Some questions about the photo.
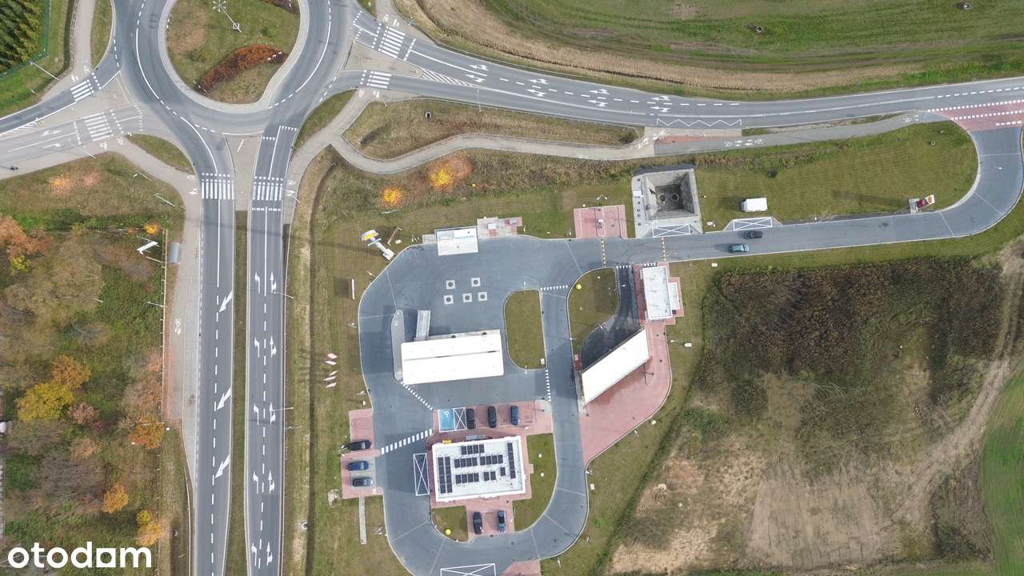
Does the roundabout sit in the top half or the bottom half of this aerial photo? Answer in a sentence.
It is in the top half that the roundabout appears.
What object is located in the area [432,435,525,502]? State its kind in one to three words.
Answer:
building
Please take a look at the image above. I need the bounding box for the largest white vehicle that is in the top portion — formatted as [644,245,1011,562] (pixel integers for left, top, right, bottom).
[741,198,767,212]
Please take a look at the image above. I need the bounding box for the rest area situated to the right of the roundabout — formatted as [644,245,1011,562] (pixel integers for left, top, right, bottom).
[340,111,1024,576]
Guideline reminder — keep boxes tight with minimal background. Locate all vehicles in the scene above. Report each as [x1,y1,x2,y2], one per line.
[349,440,373,451]
[510,405,520,426]
[465,407,476,429]
[741,198,767,212]
[496,509,507,533]
[346,460,370,471]
[472,510,483,535]
[487,405,498,429]
[729,243,750,253]
[352,476,374,487]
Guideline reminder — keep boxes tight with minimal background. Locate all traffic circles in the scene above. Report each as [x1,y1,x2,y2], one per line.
[101,0,362,181]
